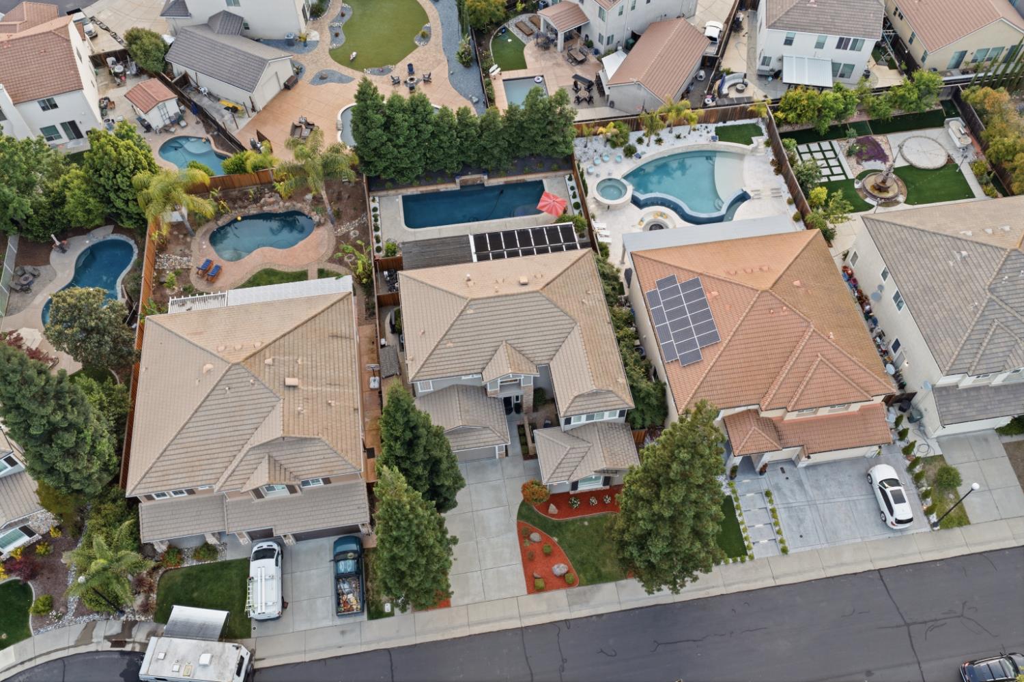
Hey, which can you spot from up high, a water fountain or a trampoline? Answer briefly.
water fountain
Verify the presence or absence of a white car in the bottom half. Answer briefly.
Yes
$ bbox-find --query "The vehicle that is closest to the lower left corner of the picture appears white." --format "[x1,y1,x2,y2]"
[140,605,258,682]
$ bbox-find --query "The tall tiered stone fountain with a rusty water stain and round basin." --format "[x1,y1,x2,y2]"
[865,161,905,202]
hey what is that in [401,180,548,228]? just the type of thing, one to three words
swimming pool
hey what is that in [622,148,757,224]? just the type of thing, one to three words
swimming pool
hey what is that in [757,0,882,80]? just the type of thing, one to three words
house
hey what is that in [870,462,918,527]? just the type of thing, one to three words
car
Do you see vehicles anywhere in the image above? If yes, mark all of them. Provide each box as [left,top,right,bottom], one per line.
[964,650,1024,682]
[140,605,258,682]
[870,462,918,527]
[69,0,98,36]
[239,538,282,624]
[327,533,365,621]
